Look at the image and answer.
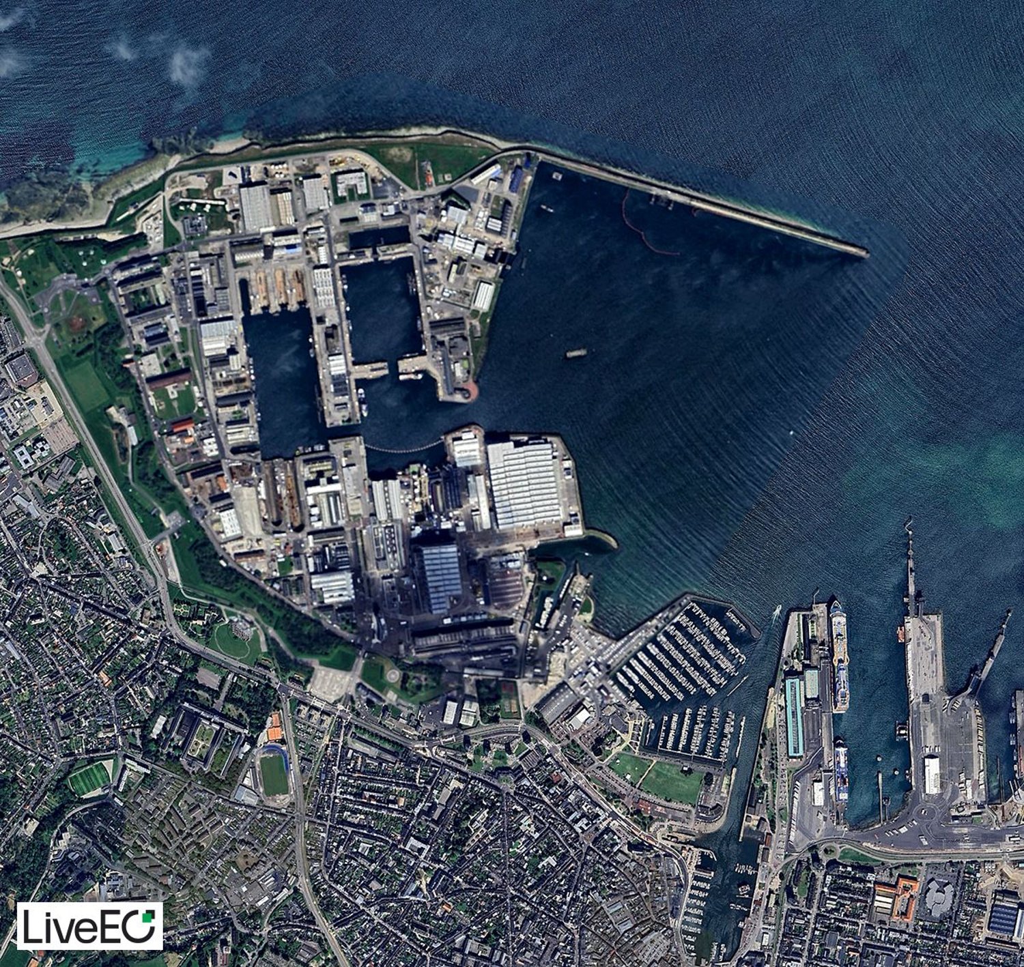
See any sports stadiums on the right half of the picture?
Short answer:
No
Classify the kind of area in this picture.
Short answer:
port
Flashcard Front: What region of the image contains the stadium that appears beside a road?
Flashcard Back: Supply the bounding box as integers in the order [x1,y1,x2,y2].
[251,743,297,807]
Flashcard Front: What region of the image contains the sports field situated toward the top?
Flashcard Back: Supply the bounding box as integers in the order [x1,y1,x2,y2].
[65,361,109,411]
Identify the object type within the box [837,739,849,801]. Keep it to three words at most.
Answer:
ship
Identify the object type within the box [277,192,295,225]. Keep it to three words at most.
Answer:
building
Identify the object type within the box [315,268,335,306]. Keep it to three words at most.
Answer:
building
